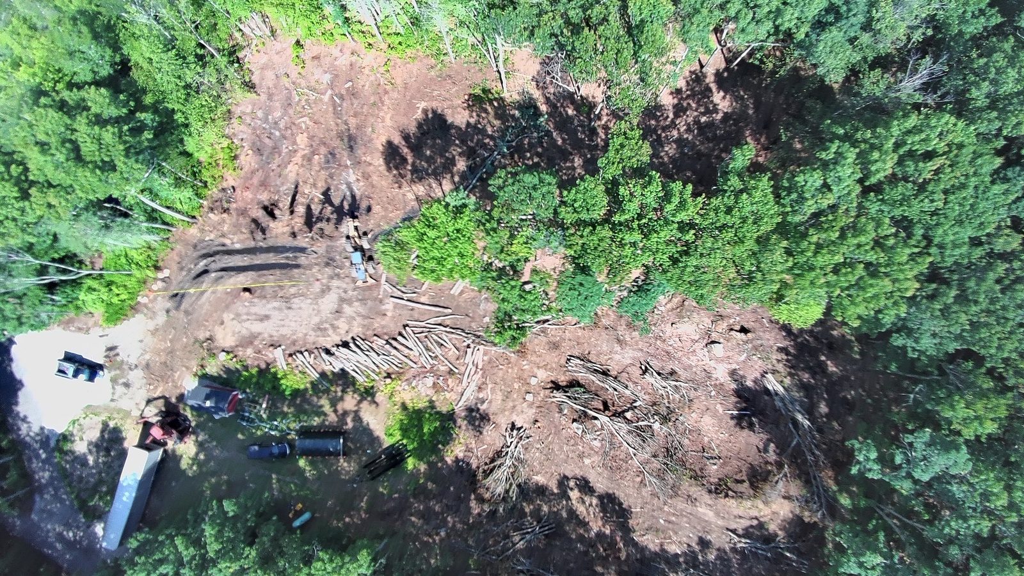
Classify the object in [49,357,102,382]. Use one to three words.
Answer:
truck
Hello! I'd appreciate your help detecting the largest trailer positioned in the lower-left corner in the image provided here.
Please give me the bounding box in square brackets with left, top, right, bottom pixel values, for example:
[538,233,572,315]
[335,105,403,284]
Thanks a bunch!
[100,441,161,551]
